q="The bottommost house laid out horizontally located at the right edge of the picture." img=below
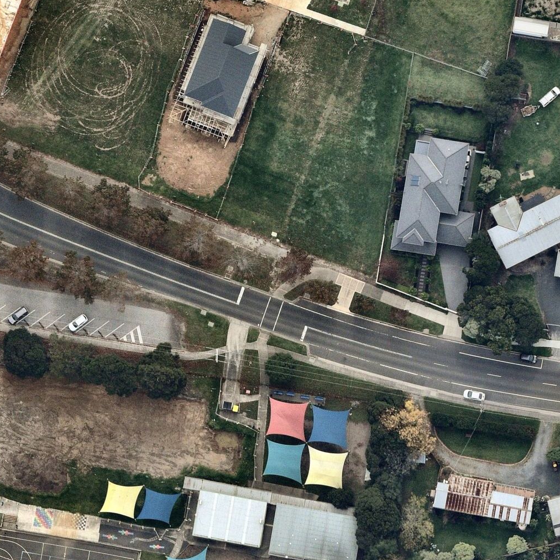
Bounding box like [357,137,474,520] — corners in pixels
[431,475,534,525]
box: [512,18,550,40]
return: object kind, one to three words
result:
shed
